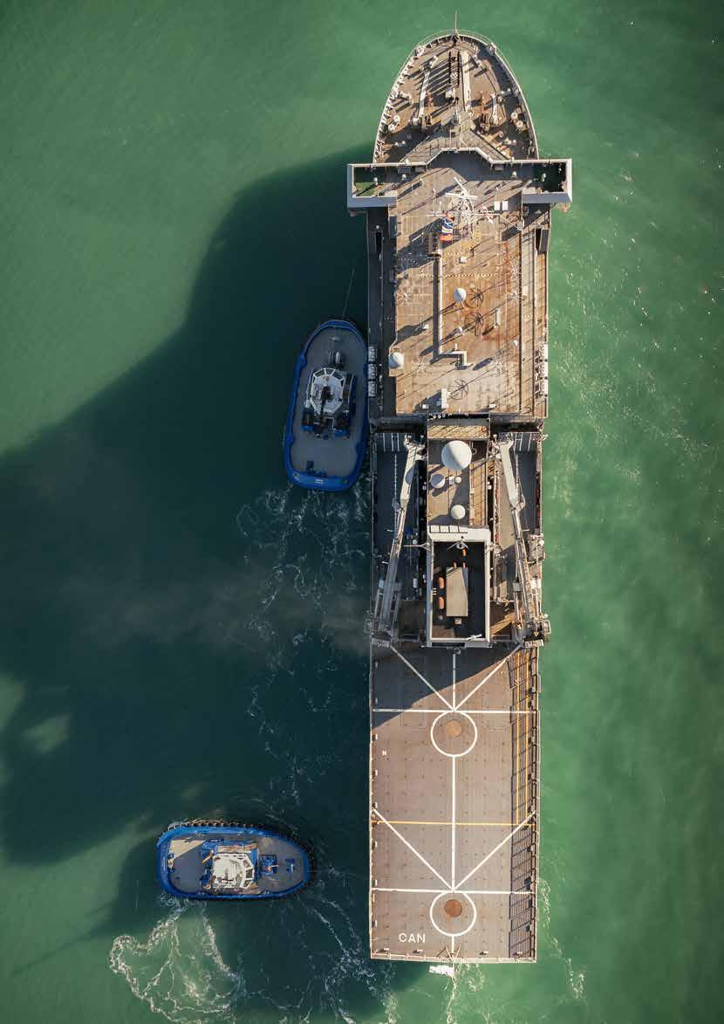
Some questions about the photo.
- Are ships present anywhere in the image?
Yes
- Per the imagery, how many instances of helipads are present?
2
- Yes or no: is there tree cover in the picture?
No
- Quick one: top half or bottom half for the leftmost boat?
bottom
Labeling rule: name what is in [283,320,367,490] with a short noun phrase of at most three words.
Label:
boat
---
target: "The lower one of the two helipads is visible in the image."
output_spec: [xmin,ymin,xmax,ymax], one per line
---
[372,809,534,952]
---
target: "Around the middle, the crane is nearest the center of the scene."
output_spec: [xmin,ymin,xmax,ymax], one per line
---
[368,430,428,651]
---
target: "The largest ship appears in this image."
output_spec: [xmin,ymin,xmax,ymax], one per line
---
[346,27,573,978]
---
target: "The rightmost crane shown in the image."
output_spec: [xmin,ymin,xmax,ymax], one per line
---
[489,430,557,650]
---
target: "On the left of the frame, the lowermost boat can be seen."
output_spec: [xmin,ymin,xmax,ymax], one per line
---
[158,815,314,901]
